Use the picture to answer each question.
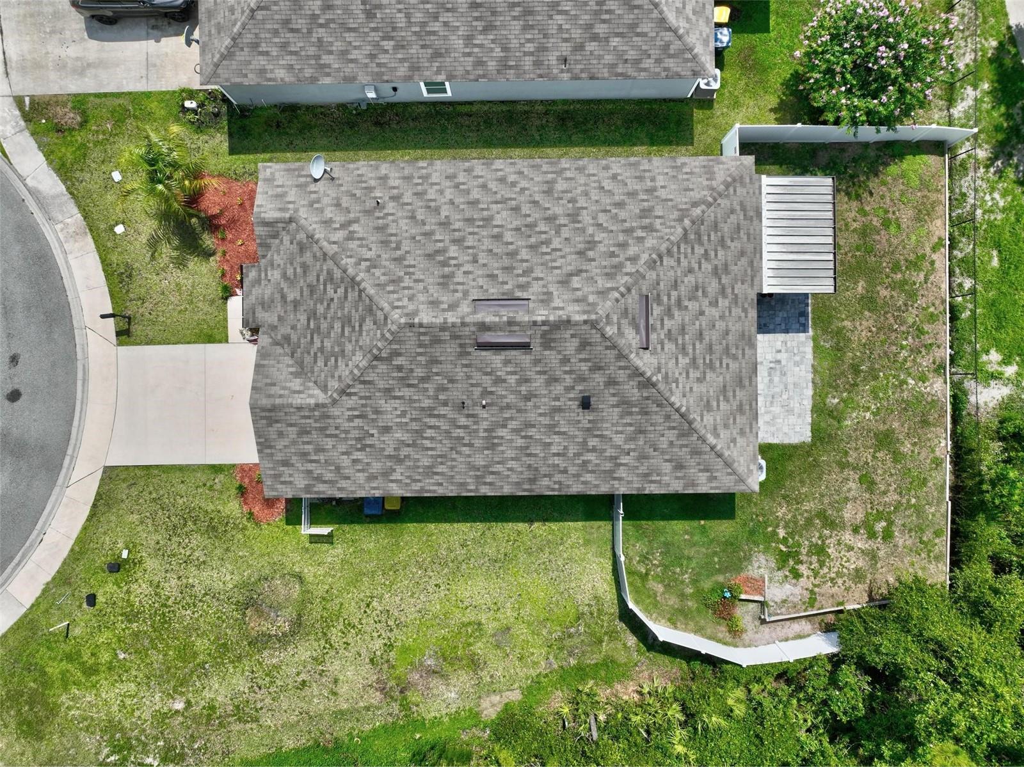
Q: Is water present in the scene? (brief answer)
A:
No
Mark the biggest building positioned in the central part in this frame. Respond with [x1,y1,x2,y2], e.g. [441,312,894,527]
[238,156,762,498]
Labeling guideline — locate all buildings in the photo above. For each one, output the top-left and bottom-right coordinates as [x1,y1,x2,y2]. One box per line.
[238,156,762,498]
[199,0,714,112]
